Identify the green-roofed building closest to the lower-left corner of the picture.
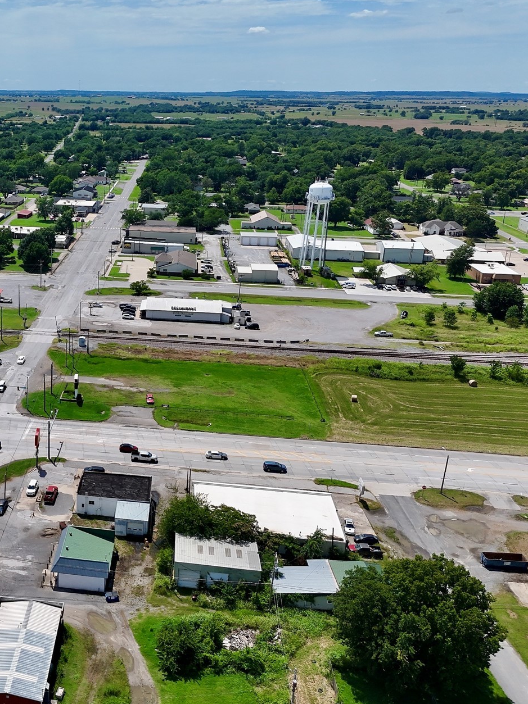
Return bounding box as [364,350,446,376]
[40,523,116,591]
